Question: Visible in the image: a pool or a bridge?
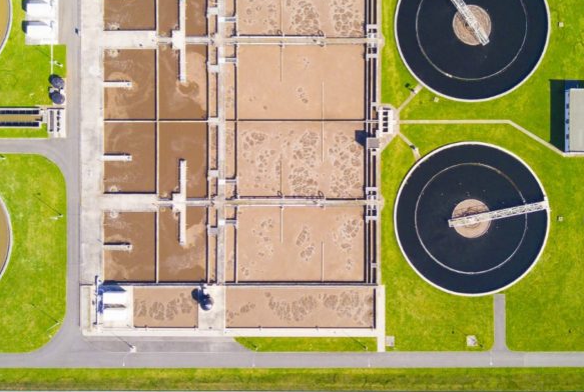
bridge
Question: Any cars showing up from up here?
No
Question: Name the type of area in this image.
industrial area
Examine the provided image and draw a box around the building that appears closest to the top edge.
[27,4,57,17]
